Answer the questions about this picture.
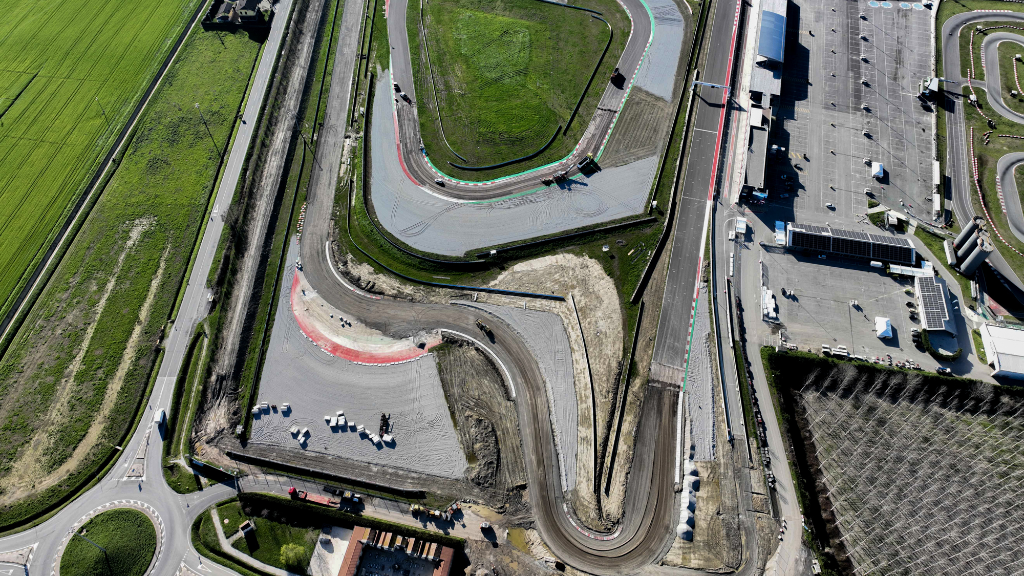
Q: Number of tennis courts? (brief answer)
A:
none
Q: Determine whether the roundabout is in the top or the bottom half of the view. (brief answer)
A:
bottom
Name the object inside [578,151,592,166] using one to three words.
vehicle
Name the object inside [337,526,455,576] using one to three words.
building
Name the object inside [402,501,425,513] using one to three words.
vehicle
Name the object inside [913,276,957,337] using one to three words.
building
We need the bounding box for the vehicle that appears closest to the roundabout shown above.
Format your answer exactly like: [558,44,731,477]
[151,409,167,432]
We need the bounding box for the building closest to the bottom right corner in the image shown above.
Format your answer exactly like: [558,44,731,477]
[978,322,1024,383]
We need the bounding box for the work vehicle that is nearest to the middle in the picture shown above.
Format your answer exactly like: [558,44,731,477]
[475,317,490,331]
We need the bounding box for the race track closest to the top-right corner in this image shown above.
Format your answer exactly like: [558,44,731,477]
[942,10,1024,330]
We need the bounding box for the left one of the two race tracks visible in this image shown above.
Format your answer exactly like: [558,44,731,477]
[291,0,763,575]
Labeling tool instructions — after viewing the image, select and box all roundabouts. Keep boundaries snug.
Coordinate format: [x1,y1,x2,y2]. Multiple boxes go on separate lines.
[45,500,169,576]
